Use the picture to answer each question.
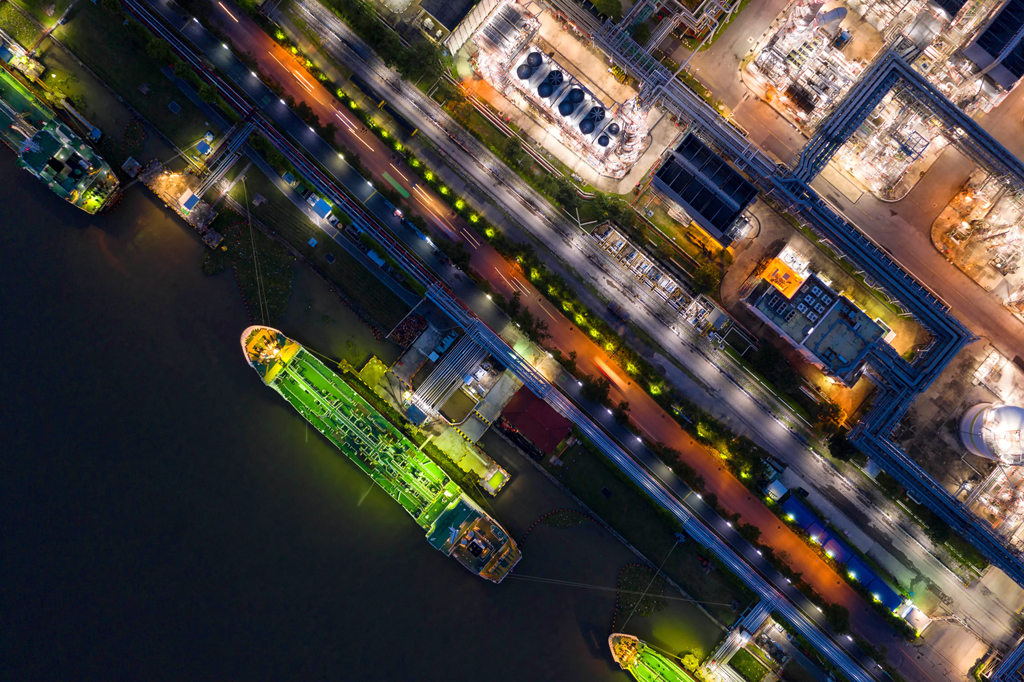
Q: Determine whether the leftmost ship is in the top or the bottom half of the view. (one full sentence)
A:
It is in the top half that the leftmost ship appears.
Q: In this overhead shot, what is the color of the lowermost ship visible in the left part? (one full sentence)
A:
The color of the lowermost ship visible in the left part is green.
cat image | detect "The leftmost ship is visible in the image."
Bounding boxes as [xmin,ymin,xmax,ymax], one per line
[0,67,130,215]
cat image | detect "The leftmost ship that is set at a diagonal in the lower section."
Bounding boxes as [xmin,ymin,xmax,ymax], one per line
[238,323,523,583]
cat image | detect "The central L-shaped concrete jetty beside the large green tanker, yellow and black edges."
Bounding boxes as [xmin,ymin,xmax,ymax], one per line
[359,323,530,496]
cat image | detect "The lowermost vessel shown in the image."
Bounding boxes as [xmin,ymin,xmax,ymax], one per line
[606,631,703,682]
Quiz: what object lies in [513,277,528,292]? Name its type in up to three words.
car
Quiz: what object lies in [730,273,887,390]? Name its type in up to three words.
building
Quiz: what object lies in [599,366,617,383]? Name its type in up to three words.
vehicle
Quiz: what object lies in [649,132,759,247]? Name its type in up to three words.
cooling tower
